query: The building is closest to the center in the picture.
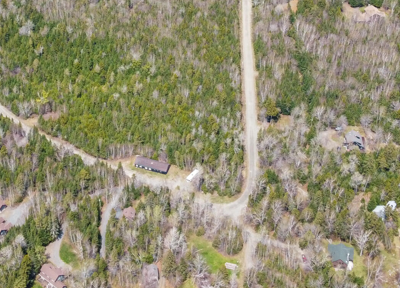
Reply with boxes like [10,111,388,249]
[132,156,173,177]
